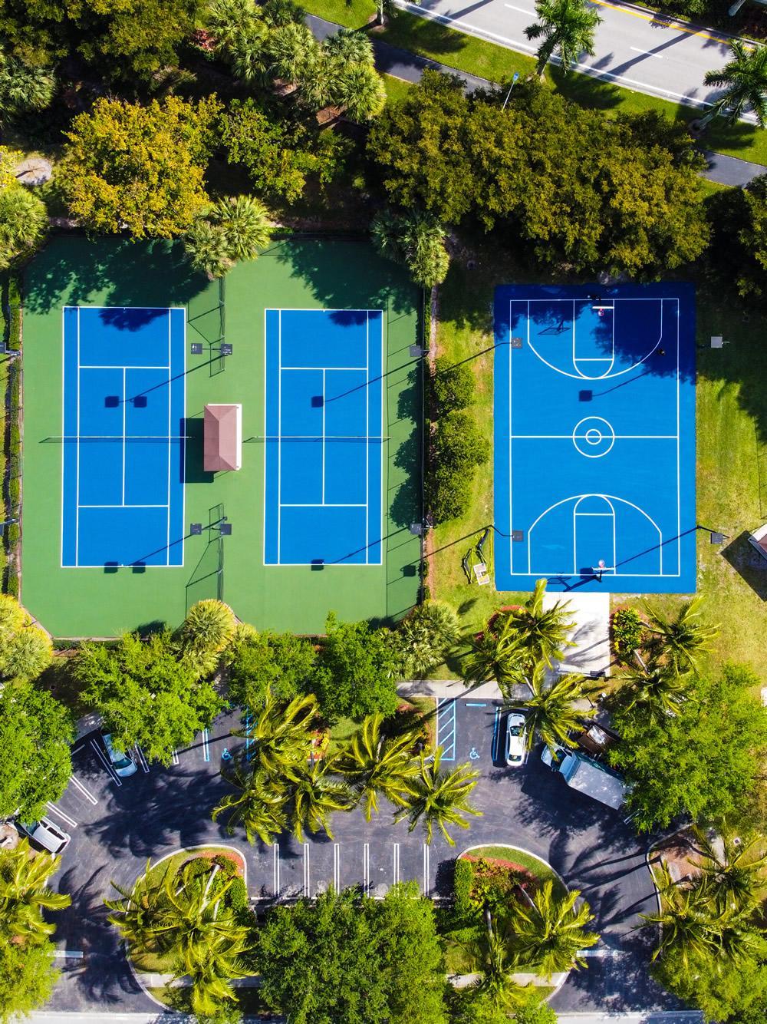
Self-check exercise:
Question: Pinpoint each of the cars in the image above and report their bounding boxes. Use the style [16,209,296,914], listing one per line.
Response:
[14,809,69,855]
[95,731,136,780]
[505,713,526,768]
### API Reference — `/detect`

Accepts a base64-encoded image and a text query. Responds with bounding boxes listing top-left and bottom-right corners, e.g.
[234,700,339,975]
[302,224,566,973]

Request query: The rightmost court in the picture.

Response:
[494,284,696,593]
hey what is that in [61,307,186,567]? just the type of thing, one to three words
tennis court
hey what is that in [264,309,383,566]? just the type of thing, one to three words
tennis court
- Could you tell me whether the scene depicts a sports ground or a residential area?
sports ground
